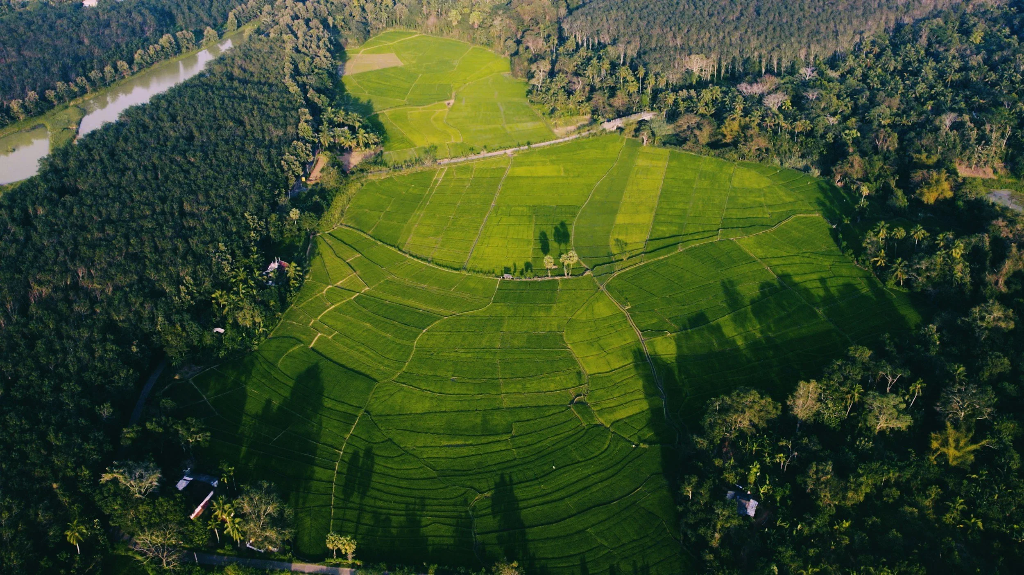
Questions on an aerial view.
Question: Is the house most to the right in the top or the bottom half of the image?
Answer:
bottom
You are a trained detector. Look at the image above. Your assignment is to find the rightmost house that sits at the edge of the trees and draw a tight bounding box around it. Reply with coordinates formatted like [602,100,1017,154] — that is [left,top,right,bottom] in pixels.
[727,492,758,526]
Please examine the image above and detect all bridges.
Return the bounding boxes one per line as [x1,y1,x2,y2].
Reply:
[588,108,672,133]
